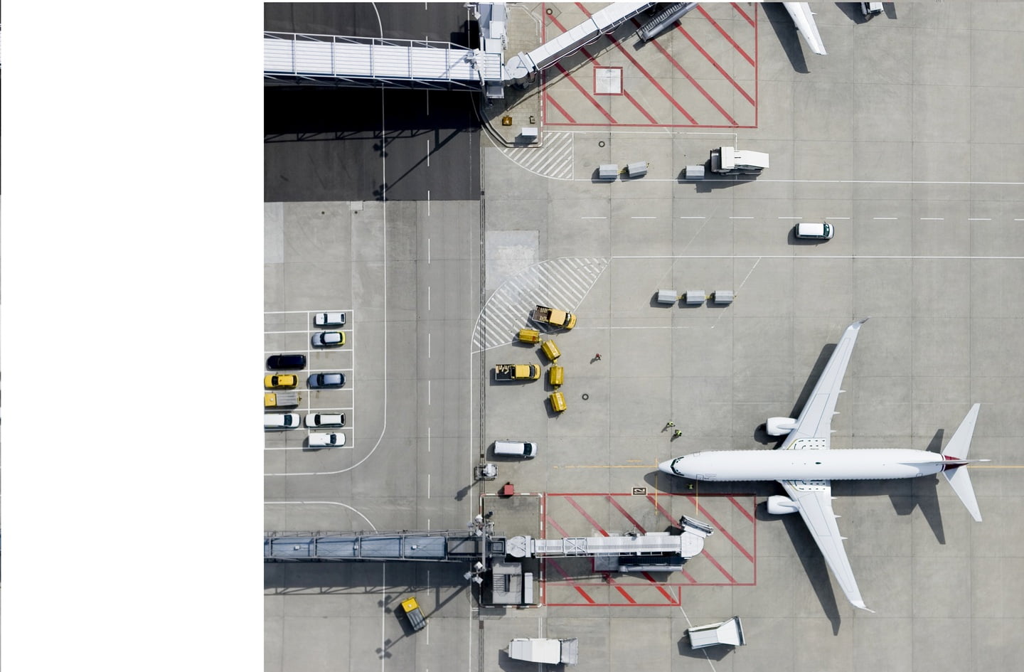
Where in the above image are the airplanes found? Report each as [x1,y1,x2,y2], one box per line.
[658,316,990,612]
[780,0,820,55]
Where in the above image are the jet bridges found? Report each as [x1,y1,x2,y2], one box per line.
[506,0,709,90]
[507,517,715,572]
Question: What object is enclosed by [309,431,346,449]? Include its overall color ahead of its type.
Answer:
white vehicle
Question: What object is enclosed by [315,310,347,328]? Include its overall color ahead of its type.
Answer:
white car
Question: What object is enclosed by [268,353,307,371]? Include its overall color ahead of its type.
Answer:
black car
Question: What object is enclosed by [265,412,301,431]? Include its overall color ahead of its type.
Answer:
white vehicle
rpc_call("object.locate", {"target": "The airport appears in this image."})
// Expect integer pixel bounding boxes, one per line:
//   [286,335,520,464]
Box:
[265,0,1024,672]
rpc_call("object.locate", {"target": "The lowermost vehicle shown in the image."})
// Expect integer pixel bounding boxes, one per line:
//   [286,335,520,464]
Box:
[400,596,428,631]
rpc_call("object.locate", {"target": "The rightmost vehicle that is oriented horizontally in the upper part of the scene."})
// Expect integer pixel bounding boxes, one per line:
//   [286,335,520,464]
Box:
[795,222,833,240]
